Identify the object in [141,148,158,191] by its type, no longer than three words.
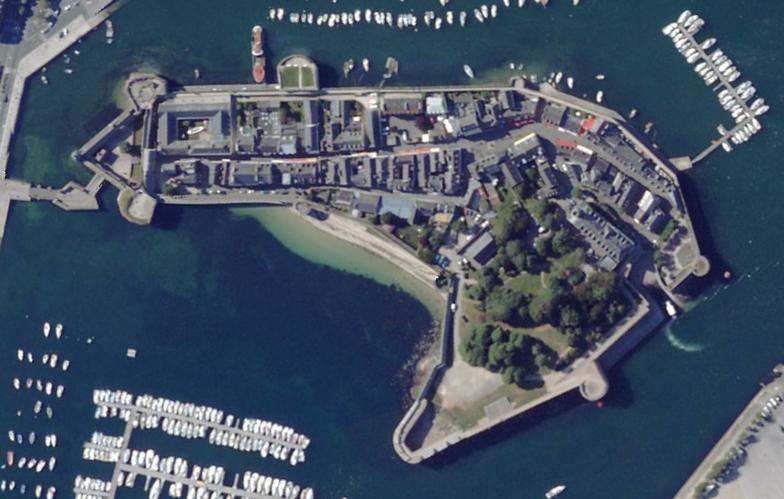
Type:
building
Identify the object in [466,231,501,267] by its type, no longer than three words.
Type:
building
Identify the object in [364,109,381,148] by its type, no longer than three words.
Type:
house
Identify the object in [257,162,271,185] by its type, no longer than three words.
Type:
house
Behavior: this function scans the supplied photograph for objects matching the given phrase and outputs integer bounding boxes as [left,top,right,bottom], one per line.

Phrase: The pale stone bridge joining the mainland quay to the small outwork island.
[2,178,60,202]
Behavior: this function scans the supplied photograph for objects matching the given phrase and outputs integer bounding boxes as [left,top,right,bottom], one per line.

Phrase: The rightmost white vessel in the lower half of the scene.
[665,300,678,318]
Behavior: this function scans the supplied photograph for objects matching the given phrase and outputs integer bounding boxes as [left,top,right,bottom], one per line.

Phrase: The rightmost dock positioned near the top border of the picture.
[678,22,755,119]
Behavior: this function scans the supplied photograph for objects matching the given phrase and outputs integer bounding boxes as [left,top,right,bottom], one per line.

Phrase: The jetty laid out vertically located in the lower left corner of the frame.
[109,413,137,499]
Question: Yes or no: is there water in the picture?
Yes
